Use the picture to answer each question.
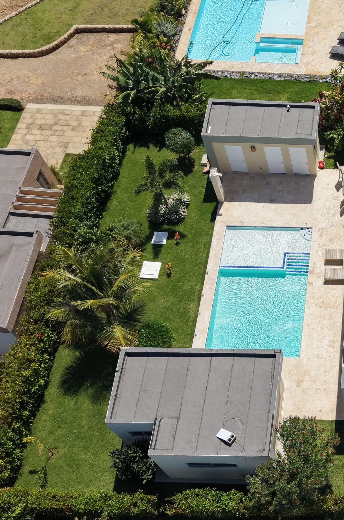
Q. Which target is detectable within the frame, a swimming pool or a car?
swimming pool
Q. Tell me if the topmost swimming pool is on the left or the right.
right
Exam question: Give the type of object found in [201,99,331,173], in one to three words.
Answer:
shed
